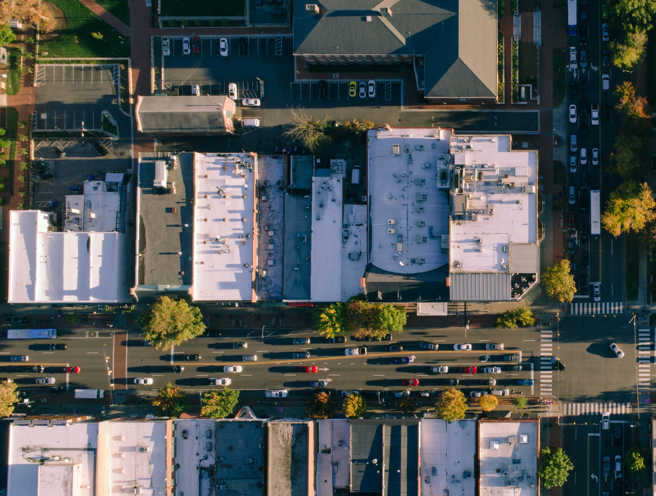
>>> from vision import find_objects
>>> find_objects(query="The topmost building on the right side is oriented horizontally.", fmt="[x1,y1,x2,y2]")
[294,0,500,103]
